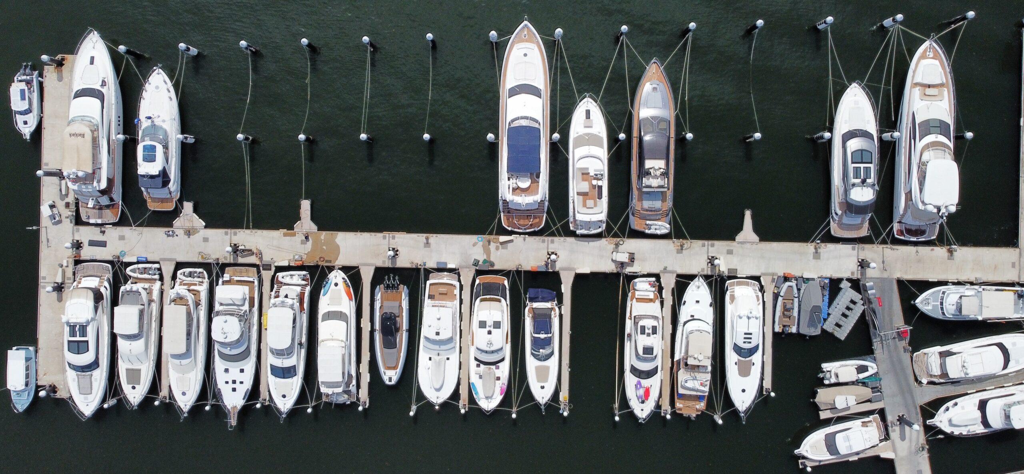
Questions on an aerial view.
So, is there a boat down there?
Yes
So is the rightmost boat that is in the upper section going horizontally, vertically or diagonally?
vertically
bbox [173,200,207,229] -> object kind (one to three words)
pier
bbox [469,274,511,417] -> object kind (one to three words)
boat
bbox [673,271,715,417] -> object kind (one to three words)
boat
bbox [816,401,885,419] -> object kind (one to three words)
pier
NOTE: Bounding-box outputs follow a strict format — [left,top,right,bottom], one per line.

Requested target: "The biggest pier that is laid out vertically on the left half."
[37,54,78,398]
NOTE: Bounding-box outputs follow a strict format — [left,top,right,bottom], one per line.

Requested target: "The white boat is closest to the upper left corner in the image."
[10,58,44,142]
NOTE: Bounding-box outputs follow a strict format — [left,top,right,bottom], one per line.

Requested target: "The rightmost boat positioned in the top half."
[892,34,959,240]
